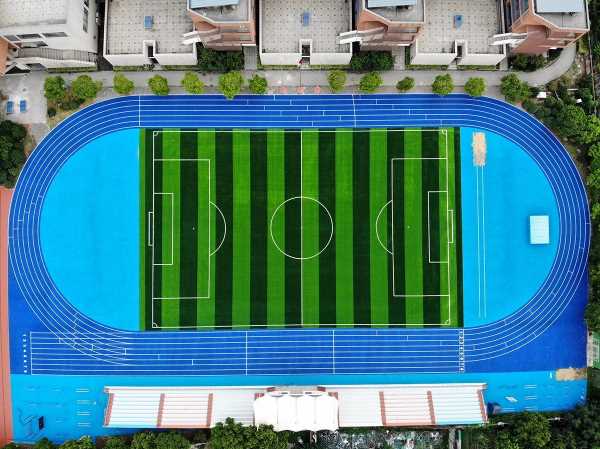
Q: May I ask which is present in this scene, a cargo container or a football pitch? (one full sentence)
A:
It is a football pitch that can be seen here.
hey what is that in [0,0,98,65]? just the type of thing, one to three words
building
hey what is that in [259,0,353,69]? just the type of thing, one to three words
building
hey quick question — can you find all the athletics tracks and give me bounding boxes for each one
[6,93,594,375]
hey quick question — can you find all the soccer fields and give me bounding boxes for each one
[139,127,463,329]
